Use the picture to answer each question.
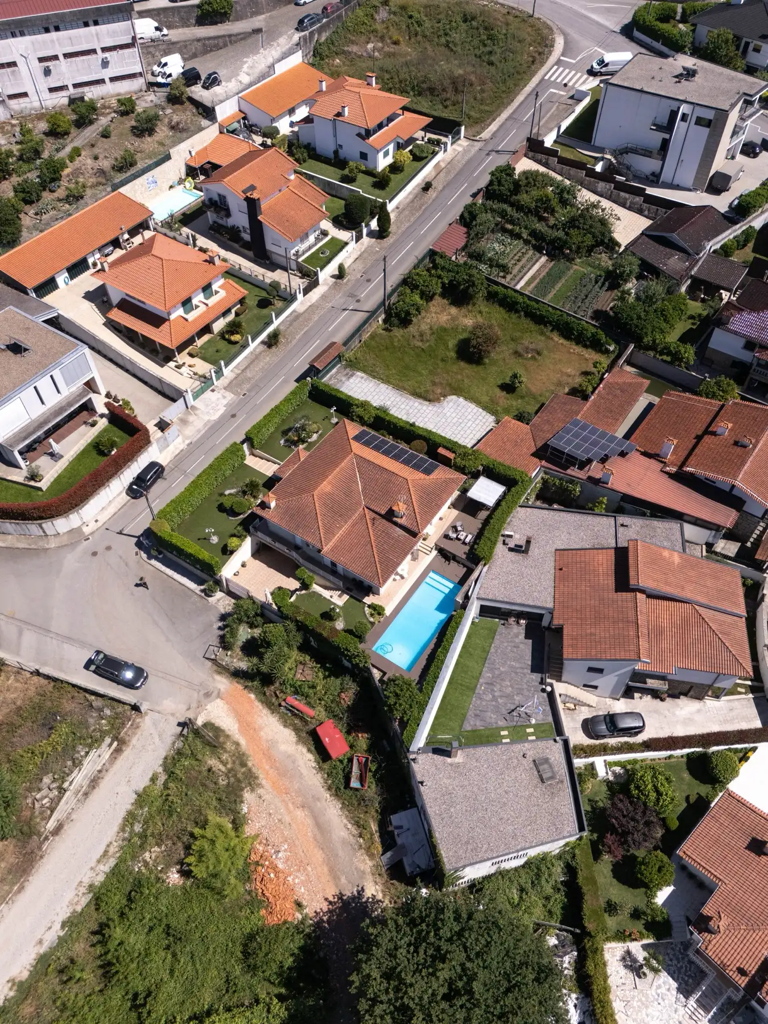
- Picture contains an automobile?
Yes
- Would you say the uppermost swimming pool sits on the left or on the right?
left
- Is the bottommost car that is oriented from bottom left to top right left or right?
left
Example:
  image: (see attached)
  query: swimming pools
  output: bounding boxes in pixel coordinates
[370,568,478,676]
[147,185,204,226]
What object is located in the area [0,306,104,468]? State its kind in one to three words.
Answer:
house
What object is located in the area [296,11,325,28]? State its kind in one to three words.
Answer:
car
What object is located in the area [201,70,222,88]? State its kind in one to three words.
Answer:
car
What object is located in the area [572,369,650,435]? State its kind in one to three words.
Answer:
shed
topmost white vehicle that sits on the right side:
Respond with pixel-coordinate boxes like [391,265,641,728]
[595,45,640,72]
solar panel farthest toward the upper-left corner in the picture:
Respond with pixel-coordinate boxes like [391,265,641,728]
[1,329,29,354]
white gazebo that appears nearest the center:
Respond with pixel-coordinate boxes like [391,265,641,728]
[464,477,507,524]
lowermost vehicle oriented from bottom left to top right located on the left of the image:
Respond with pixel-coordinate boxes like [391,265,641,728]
[122,457,169,497]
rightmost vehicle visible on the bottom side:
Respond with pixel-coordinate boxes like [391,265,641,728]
[587,712,650,743]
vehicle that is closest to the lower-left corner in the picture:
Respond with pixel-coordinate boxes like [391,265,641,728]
[82,647,149,692]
